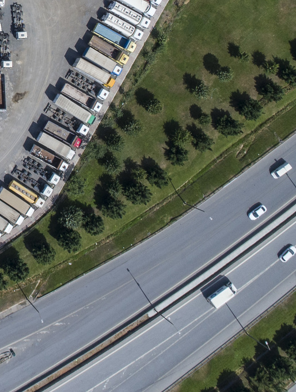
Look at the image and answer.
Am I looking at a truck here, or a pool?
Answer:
truck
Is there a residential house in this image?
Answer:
No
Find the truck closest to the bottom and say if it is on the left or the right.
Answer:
right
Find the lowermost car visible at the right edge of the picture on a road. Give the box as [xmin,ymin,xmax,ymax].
[279,245,295,261]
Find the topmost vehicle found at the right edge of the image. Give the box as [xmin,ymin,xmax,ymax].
[269,163,291,177]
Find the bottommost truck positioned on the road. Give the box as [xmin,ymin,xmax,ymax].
[200,276,236,312]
